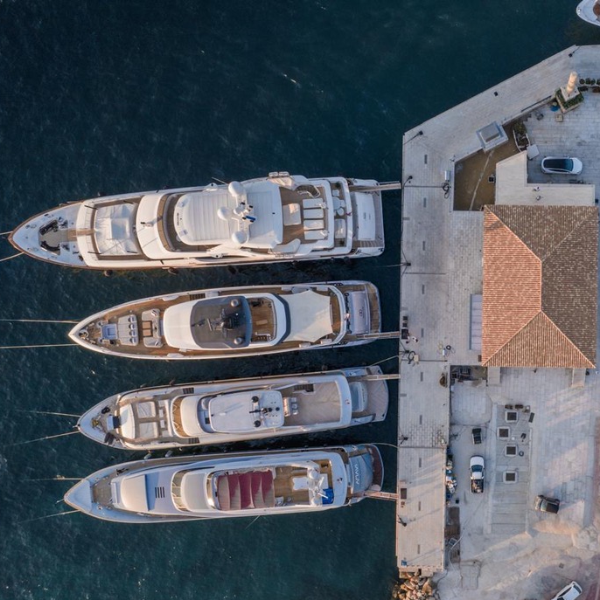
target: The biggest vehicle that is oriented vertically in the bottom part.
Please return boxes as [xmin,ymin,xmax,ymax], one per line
[467,456,486,496]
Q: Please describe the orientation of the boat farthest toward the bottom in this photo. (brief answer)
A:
from left to right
